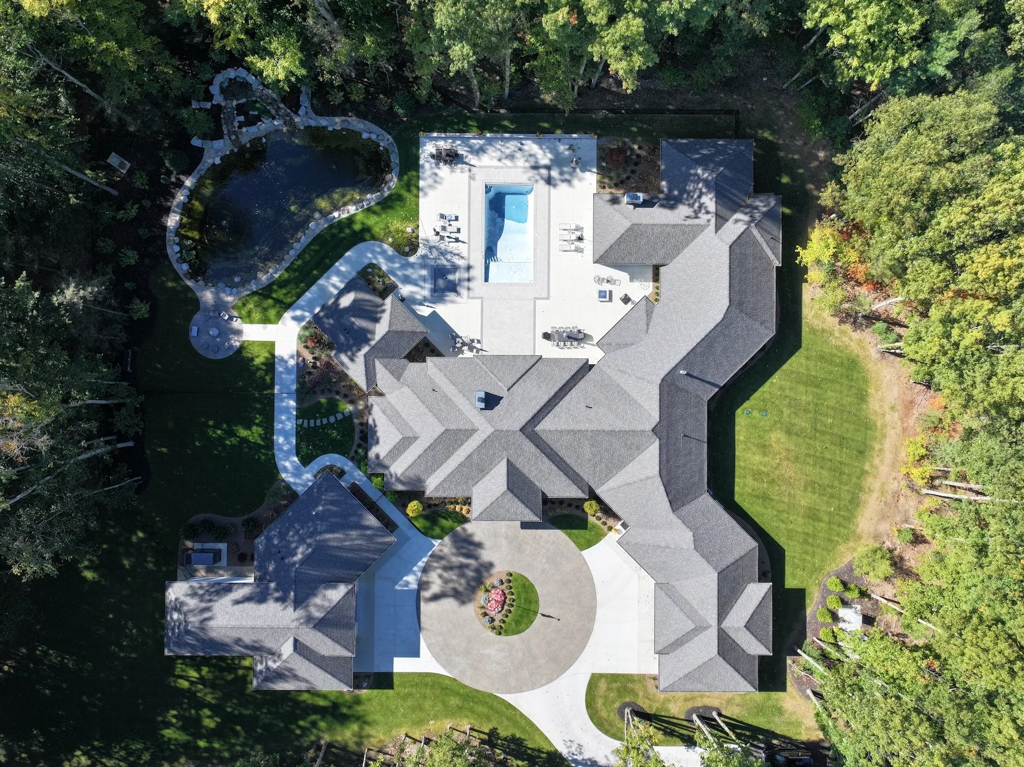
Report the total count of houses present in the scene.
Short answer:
2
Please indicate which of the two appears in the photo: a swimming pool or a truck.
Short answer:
swimming pool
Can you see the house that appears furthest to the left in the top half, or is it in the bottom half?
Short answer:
bottom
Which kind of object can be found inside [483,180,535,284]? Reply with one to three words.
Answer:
swimming pool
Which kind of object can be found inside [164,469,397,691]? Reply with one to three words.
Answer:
house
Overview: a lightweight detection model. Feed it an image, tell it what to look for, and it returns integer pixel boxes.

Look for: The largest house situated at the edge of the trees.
[309,137,783,693]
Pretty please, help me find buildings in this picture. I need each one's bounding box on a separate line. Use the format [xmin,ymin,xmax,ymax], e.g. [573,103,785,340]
[309,137,783,693]
[164,469,397,691]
